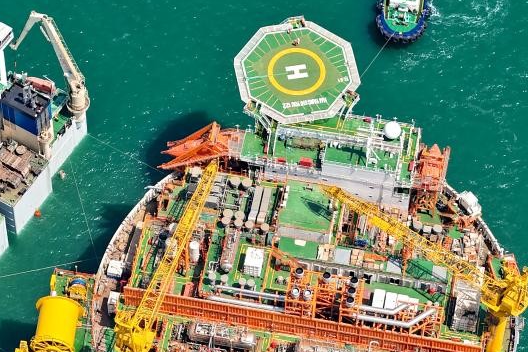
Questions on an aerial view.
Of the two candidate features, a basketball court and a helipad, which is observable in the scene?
helipad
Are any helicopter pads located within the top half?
Yes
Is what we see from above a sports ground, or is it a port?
port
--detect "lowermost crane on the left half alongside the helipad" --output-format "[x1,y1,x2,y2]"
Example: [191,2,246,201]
[107,158,215,352]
